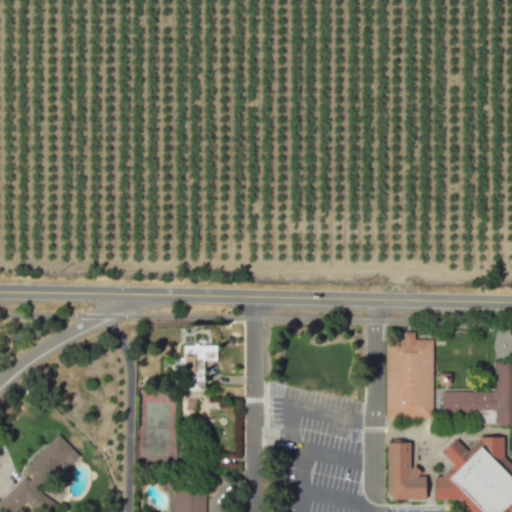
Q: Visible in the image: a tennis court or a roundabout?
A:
tennis court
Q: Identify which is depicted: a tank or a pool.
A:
pool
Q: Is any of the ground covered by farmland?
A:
Yes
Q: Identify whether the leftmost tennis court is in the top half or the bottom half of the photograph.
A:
bottom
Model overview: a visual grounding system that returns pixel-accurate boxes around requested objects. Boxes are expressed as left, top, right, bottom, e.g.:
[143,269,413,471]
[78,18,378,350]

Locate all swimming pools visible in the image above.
[142,484,169,512]
[50,456,98,504]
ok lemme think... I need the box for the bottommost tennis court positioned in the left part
[139,388,177,462]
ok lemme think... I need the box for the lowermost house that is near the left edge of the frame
[0,436,80,512]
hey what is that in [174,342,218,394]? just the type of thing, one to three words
house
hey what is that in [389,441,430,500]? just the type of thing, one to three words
building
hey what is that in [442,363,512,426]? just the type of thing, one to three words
building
